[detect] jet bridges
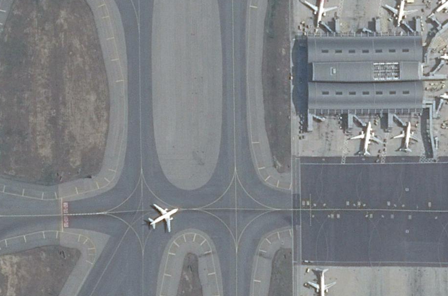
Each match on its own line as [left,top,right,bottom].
[319,22,335,34]
[313,115,326,123]
[432,60,444,74]
[353,114,367,129]
[437,99,445,117]
[363,27,374,34]
[393,114,408,128]
[401,21,416,34]
[433,15,444,29]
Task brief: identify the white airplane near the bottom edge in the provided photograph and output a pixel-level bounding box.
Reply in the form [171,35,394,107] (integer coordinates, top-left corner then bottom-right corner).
[309,269,338,296]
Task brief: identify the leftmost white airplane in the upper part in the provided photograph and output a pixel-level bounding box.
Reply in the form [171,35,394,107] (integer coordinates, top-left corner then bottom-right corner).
[305,0,338,31]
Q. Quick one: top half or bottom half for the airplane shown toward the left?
bottom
